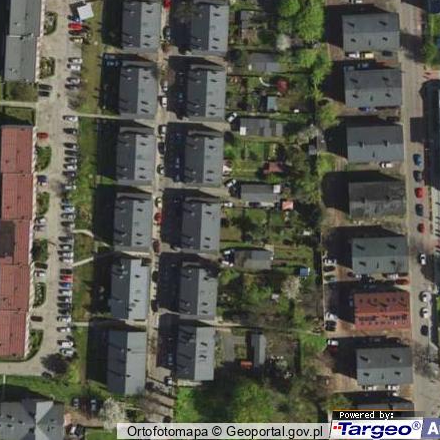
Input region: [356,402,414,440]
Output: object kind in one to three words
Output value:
house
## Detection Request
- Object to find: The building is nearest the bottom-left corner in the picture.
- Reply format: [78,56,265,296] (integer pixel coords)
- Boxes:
[0,399,64,440]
